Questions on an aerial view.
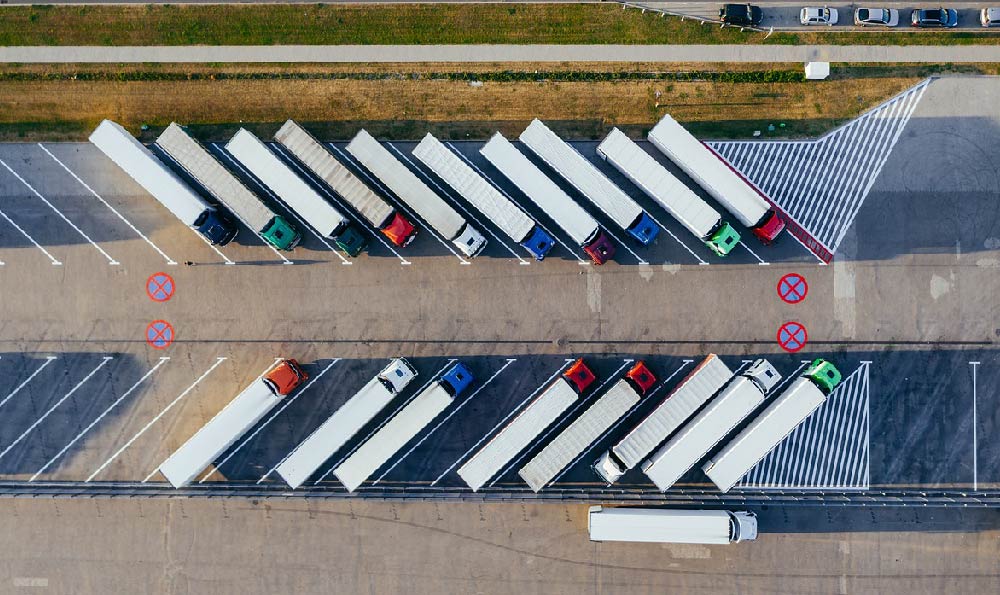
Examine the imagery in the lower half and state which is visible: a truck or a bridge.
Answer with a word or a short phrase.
truck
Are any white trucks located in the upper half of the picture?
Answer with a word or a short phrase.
Yes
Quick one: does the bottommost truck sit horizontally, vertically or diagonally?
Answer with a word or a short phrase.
horizontally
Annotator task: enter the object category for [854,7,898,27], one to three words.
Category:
car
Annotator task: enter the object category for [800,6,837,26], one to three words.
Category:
car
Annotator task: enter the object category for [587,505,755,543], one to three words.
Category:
truck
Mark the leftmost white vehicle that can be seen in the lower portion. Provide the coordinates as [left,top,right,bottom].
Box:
[159,351,311,489]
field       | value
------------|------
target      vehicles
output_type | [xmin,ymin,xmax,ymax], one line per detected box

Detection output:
[155,122,306,258]
[346,129,490,263]
[412,133,557,264]
[646,114,788,247]
[800,6,837,26]
[334,357,478,492]
[700,359,842,491]
[854,7,898,27]
[458,357,598,490]
[587,505,755,543]
[519,358,658,491]
[641,356,781,491]
[159,351,311,489]
[589,354,732,486]
[722,5,763,26]
[479,132,619,267]
[224,127,373,263]
[276,352,420,489]
[596,127,739,259]
[88,117,245,253]
[911,7,956,27]
[272,117,422,251]
[520,119,660,250]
